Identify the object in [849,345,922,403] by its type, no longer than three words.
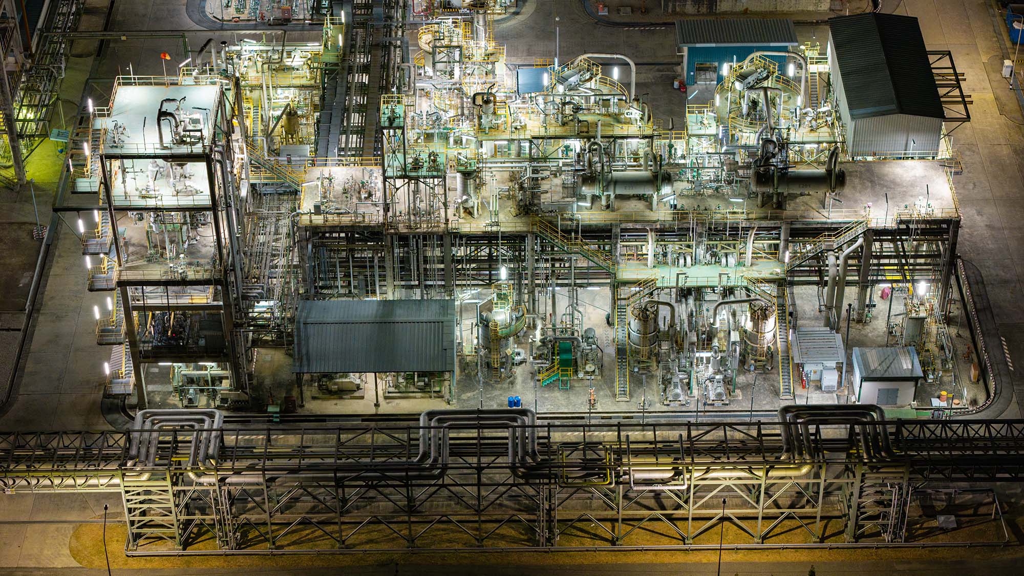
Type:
shed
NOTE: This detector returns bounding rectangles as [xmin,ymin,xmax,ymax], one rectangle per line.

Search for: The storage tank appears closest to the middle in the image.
[470,282,523,387]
